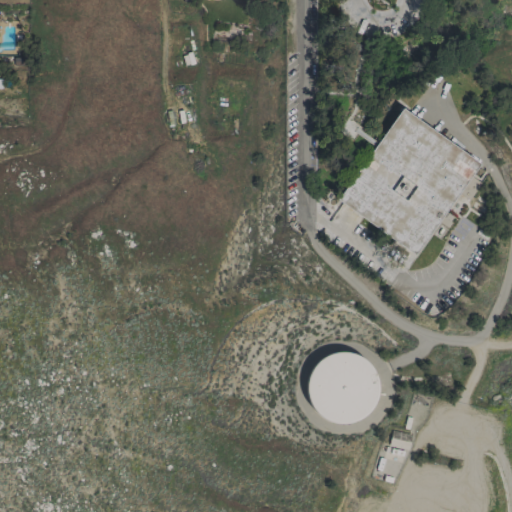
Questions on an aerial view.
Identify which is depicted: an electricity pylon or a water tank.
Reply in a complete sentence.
It is a water tank that can be seen here.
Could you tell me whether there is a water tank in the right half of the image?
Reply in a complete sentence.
Yes, you'll find a water tank in the right half of the image.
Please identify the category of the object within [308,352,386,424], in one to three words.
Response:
water tank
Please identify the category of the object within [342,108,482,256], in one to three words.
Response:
building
